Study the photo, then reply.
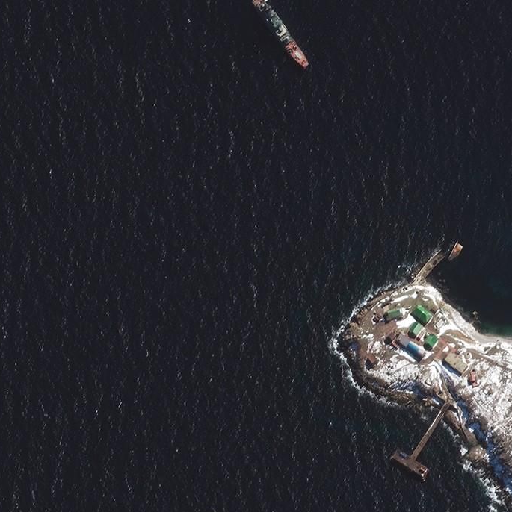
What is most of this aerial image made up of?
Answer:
water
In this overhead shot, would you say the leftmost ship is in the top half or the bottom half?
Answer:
top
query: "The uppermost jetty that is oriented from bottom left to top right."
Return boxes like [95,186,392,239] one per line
[413,250,444,285]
